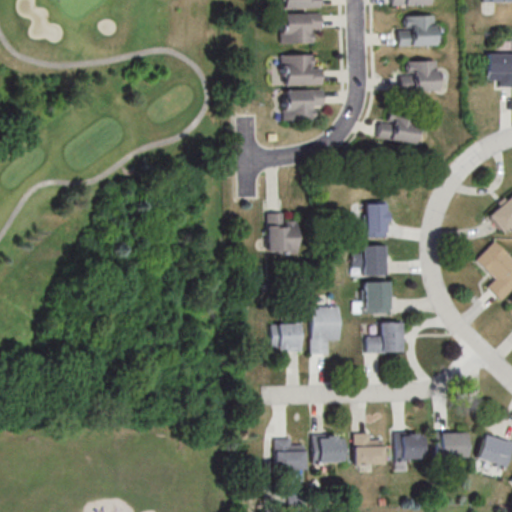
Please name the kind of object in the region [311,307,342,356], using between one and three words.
house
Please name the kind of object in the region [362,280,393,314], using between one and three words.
house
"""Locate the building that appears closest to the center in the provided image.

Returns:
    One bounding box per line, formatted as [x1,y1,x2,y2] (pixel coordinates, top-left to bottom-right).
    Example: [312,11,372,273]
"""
[266,212,302,256]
